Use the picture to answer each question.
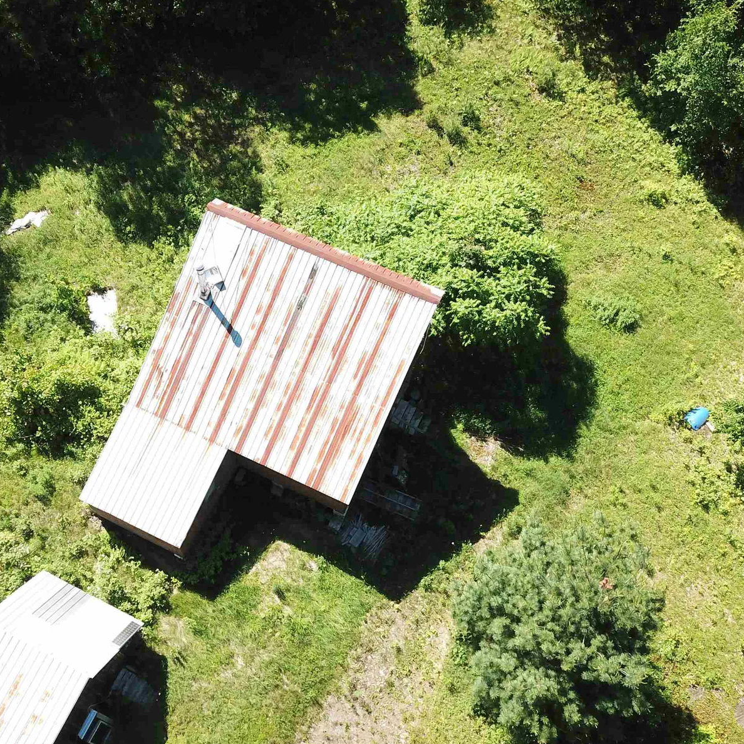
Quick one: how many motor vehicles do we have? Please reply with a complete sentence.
No motor vehicles are visible.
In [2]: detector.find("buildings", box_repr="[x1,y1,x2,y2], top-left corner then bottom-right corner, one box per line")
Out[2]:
[87,197,445,559]
[0,570,146,744]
